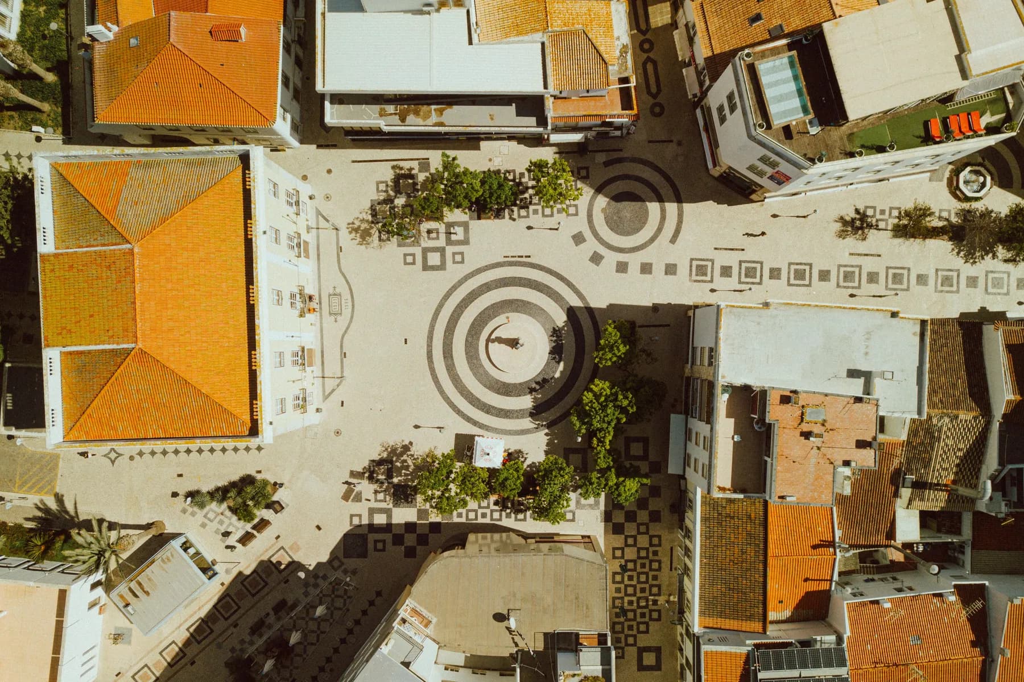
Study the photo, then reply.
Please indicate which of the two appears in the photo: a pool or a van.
pool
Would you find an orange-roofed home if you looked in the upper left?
Yes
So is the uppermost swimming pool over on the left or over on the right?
right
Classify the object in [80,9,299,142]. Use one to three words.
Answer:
house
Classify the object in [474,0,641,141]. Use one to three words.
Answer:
house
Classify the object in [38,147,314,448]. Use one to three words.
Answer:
building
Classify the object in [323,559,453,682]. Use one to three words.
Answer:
building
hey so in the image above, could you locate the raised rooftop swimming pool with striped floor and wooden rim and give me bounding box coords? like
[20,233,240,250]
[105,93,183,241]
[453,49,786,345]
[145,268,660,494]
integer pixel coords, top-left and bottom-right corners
[753,51,812,131]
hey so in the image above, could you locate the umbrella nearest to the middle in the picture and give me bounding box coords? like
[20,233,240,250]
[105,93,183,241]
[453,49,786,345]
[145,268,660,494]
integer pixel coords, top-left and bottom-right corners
[473,436,505,468]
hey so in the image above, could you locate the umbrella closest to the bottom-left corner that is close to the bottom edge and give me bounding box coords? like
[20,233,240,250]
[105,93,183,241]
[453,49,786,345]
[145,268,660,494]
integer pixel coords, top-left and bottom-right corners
[263,655,279,674]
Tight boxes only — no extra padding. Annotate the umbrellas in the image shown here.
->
[316,601,329,618]
[291,626,306,644]
[473,436,505,468]
[263,655,279,674]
